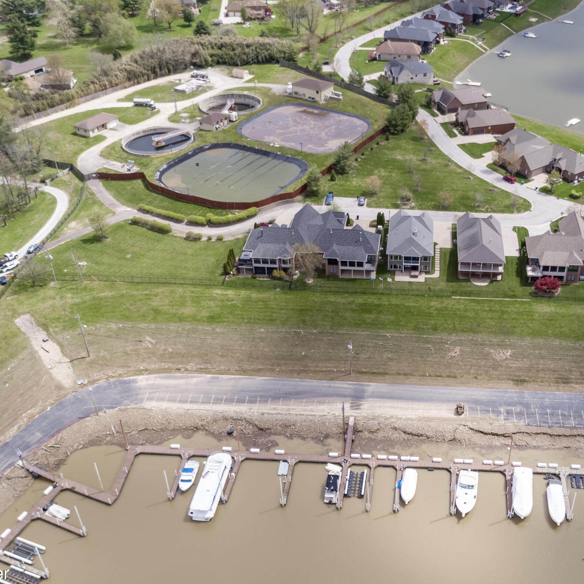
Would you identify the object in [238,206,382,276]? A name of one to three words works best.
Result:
house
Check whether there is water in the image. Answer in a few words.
Yes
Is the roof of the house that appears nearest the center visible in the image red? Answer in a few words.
No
